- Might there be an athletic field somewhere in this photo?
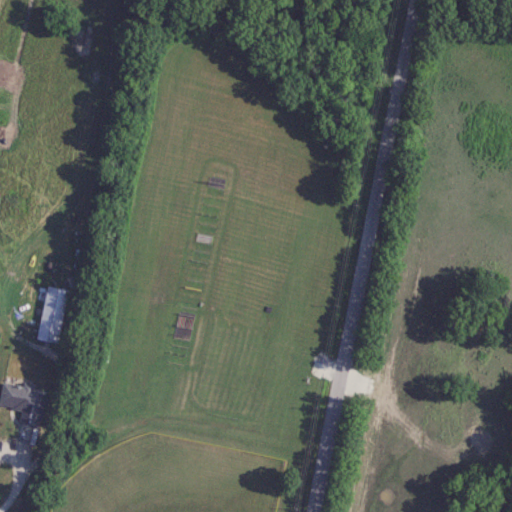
Yes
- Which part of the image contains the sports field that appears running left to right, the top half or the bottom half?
bottom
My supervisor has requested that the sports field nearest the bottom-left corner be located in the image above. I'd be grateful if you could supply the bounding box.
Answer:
[56,434,284,512]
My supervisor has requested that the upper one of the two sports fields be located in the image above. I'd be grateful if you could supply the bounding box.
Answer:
[98,42,354,461]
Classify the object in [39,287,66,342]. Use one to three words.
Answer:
barn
